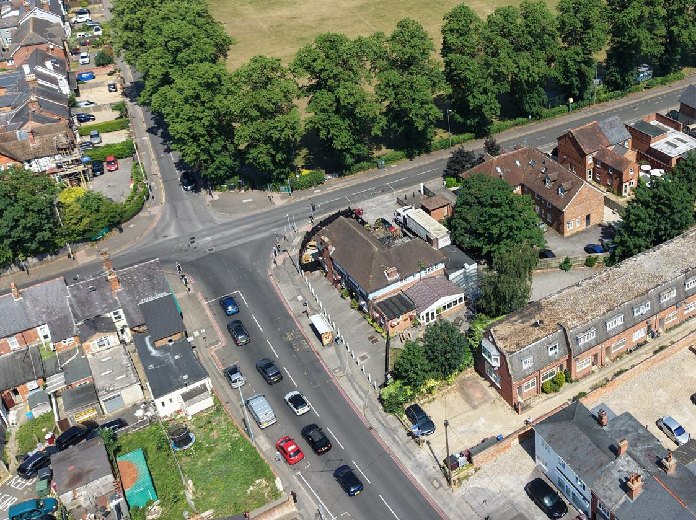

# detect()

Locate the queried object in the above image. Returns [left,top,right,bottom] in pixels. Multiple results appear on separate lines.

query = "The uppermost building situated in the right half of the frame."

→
[629,73,652,94]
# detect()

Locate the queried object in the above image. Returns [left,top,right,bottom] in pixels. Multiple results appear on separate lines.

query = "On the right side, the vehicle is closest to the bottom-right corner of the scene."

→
[655,413,690,447]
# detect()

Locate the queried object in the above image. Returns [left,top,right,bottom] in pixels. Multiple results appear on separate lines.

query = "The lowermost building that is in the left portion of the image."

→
[52,433,122,515]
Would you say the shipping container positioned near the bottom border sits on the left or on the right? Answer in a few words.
left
